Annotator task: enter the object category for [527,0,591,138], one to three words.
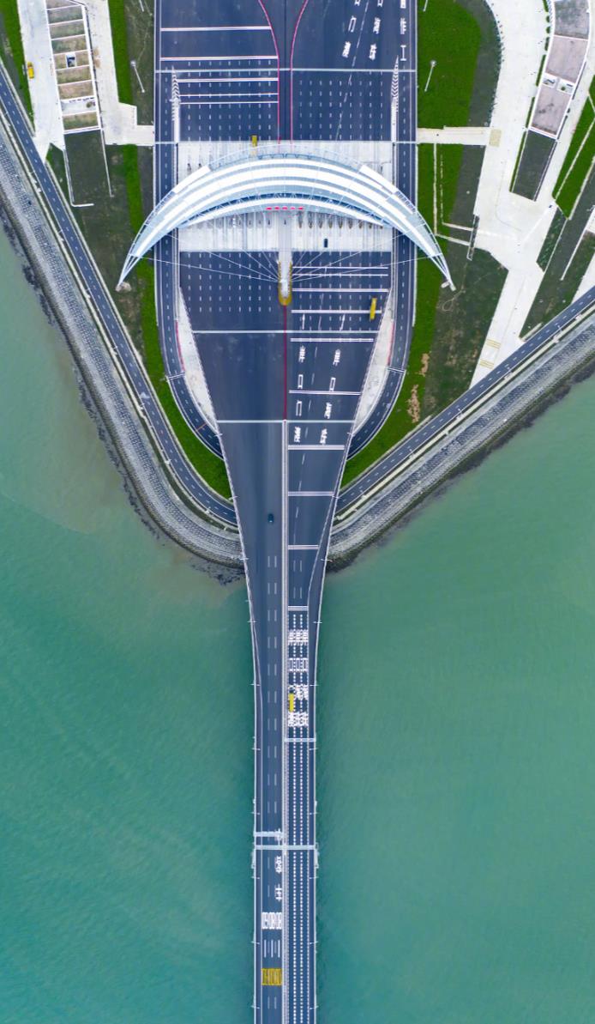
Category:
building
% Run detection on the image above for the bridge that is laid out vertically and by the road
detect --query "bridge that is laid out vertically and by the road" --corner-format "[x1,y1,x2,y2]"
[216,420,355,1024]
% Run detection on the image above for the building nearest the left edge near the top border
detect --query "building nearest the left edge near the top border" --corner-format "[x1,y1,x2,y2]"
[44,0,103,137]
